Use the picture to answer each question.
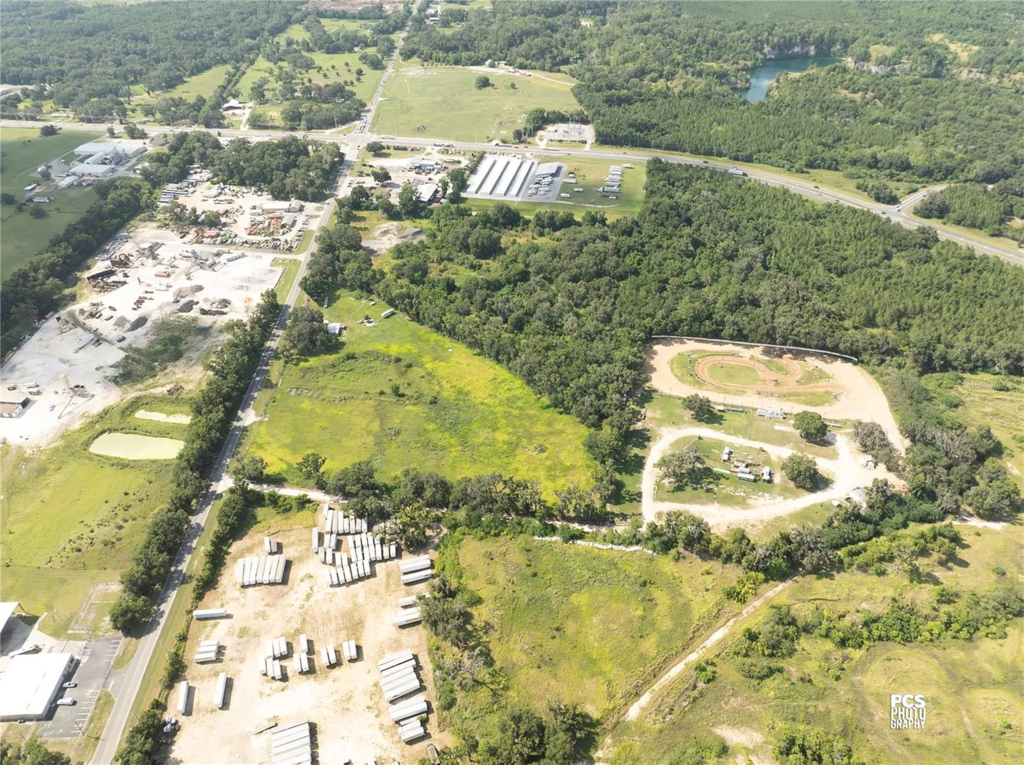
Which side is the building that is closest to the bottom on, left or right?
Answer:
left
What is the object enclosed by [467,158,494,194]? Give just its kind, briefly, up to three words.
building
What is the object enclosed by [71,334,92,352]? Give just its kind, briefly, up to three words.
vehicle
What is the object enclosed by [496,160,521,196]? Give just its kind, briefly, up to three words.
building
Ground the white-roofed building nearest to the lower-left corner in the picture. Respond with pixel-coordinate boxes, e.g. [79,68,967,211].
[0,652,79,724]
